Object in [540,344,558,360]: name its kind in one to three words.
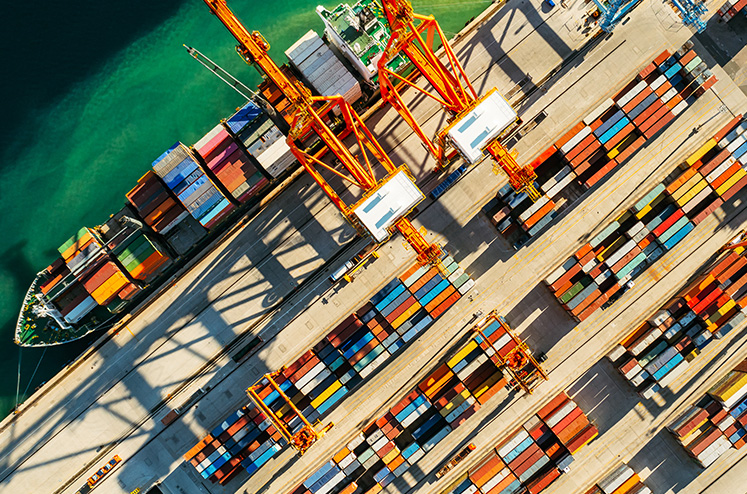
vehicle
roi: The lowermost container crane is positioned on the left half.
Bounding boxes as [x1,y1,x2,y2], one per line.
[247,369,335,456]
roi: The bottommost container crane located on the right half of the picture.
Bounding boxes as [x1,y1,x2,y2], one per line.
[467,313,550,396]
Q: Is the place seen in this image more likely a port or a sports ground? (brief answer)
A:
port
